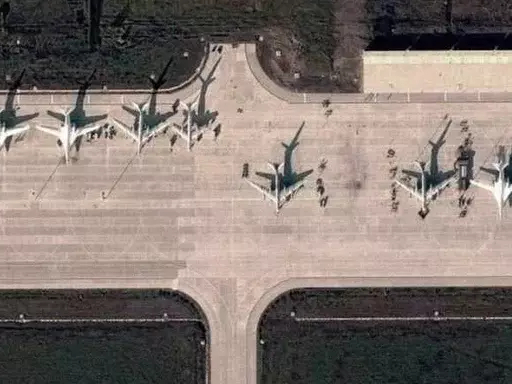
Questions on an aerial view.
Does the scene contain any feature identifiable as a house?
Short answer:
No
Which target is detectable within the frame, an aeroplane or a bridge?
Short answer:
aeroplane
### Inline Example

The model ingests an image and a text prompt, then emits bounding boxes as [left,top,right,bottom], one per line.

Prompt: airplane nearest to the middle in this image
[249,154,307,206]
